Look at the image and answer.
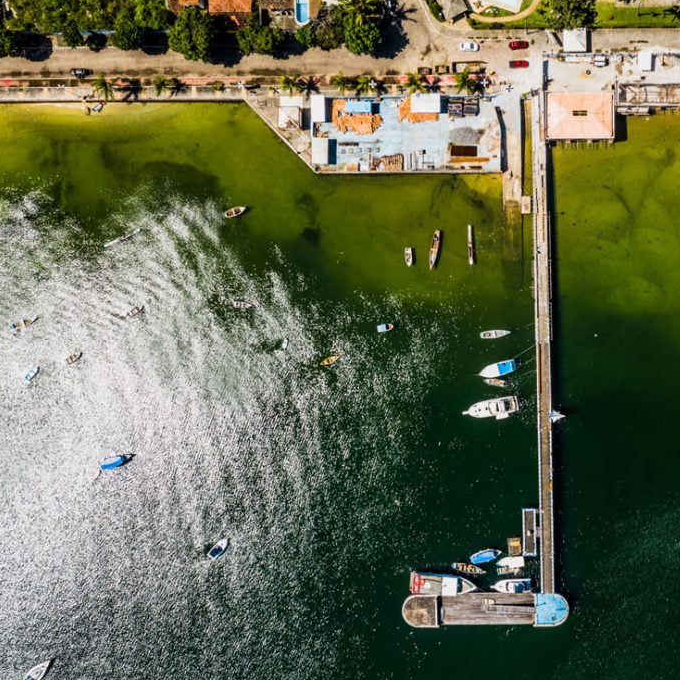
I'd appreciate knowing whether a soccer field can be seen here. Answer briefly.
No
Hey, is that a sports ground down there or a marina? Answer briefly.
marina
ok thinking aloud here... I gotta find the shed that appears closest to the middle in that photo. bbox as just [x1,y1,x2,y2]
[312,138,331,167]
